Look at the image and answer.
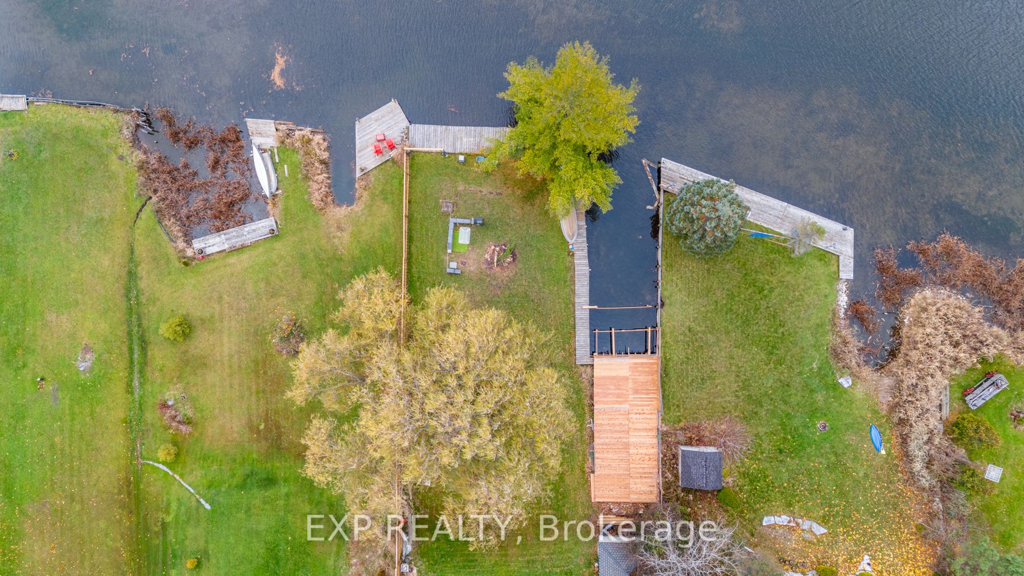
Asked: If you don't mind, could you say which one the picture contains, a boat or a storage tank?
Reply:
boat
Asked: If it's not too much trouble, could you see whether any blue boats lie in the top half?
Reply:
No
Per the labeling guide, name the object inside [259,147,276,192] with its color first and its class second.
white boat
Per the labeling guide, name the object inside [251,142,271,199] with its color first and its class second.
white boat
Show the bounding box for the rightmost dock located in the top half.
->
[661,158,854,279]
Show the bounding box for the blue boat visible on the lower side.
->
[871,424,883,454]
